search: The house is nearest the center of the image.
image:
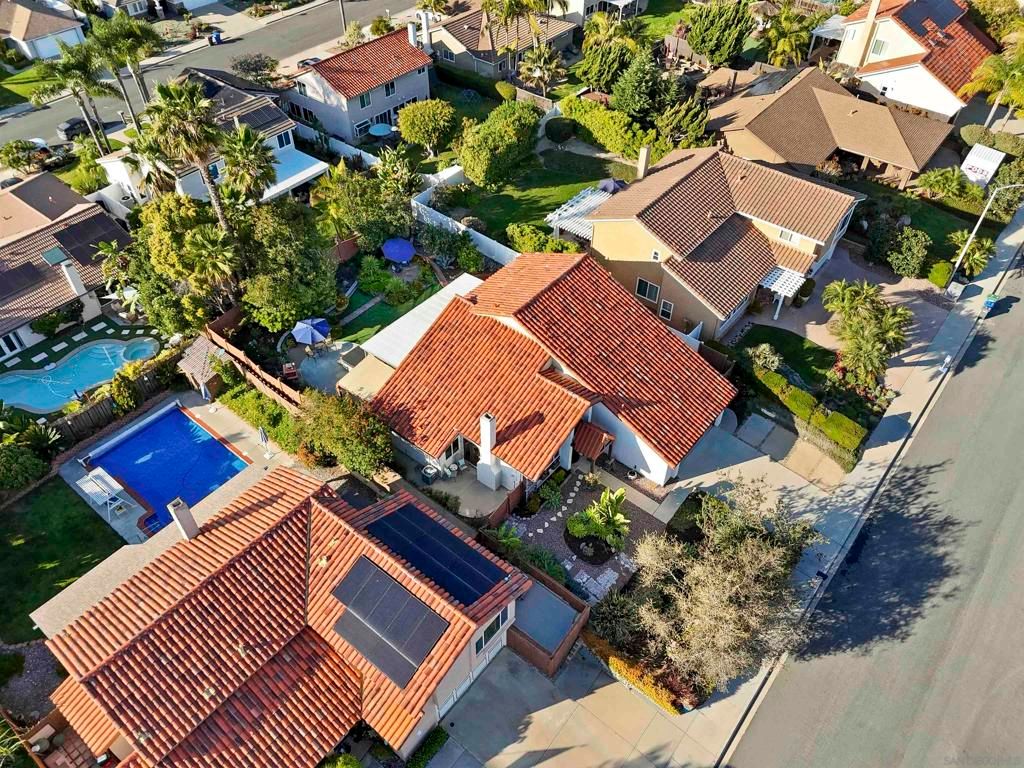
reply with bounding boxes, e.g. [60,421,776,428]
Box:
[369,250,741,498]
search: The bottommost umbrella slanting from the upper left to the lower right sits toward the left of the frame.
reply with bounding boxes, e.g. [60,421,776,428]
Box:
[258,429,277,457]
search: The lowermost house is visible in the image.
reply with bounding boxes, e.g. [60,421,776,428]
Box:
[44,463,535,768]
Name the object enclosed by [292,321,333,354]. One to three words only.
umbrella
